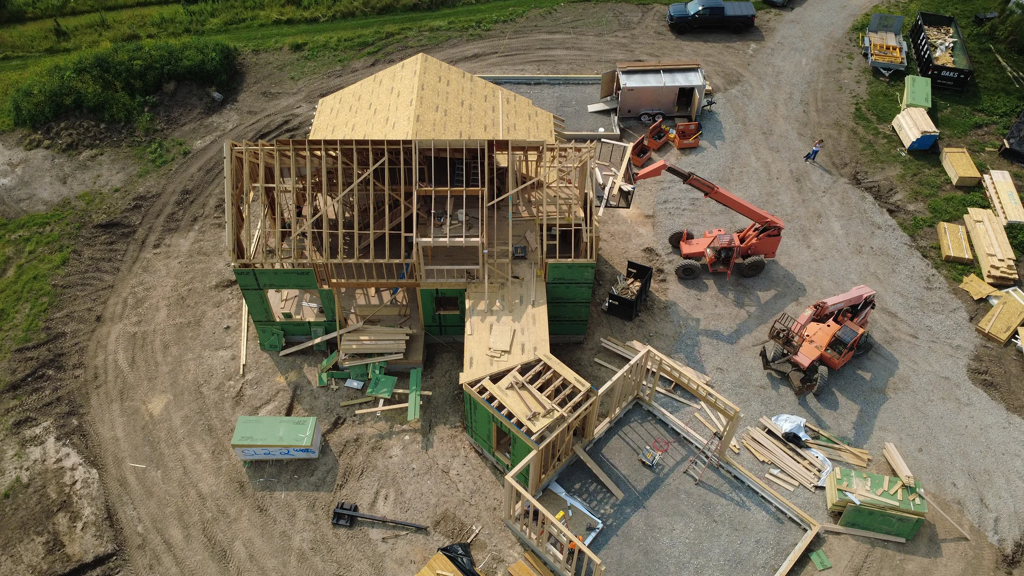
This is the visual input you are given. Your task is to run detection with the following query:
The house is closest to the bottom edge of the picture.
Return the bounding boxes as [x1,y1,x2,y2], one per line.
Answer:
[223,53,597,396]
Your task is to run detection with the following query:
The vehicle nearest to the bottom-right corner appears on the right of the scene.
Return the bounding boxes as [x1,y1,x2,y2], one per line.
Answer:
[756,282,891,404]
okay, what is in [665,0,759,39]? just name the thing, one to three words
truck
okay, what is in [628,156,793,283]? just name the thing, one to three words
work vehicle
